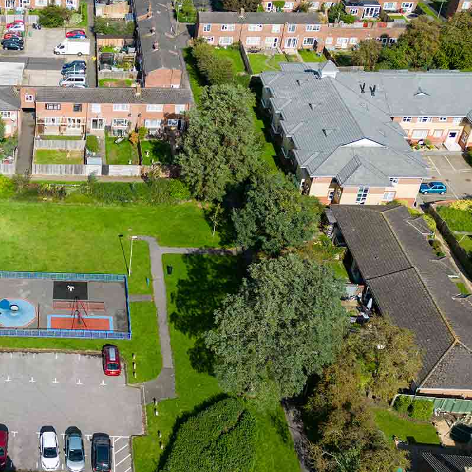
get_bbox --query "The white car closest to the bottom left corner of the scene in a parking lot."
[38,429,60,471]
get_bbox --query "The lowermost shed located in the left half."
[86,157,104,179]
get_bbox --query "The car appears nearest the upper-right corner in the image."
[421,180,451,196]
